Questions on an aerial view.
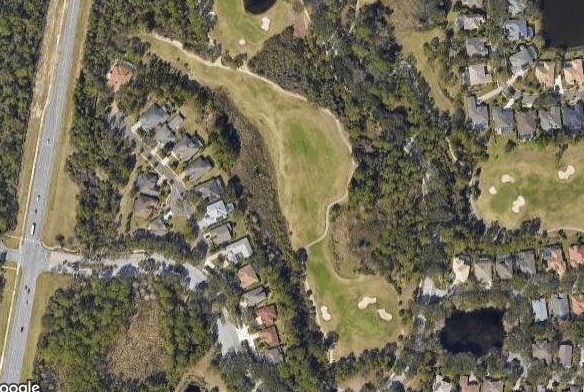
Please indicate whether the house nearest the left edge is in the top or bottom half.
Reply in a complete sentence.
Seen from above, the house nearest the left edge lies in the top half of the view.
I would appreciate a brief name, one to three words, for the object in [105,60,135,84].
house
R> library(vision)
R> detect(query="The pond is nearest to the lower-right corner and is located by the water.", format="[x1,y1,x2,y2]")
[438,307,506,356]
